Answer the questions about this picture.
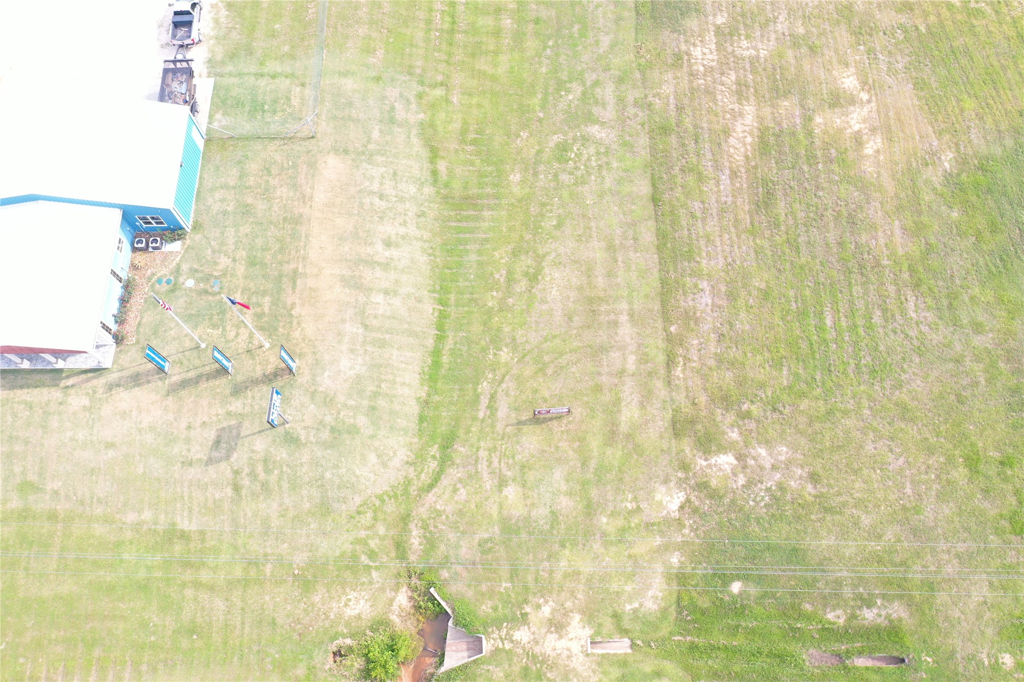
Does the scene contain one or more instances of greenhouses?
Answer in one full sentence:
No, no greenhouse is visible in the view.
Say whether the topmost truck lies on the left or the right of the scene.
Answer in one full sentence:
The topmost truck sits on the left side.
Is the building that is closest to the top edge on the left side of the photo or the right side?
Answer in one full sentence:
You can find the building that is closest to the top edge on the left side of the picture.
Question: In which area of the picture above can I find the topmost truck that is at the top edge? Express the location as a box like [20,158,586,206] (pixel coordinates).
[170,0,202,51]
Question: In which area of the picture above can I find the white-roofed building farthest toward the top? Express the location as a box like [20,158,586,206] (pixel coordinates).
[0,90,206,237]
